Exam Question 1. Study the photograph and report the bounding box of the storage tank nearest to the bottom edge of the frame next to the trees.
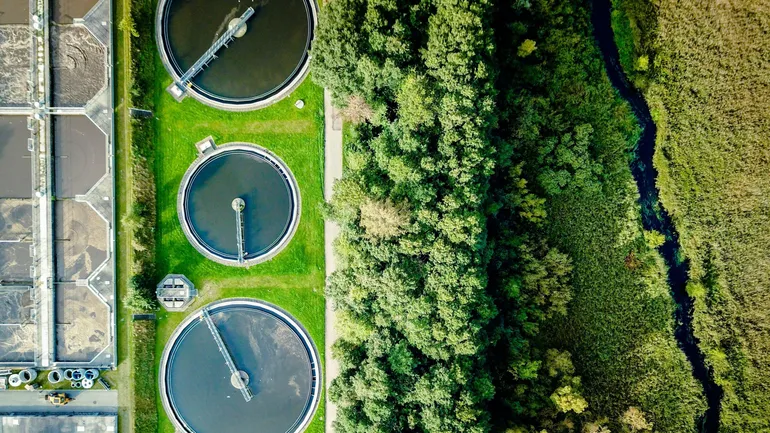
[159,298,322,433]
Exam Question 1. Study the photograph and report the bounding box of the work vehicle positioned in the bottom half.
[46,392,81,406]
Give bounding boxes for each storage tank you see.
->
[159,298,322,433]
[177,142,302,266]
[156,0,322,114]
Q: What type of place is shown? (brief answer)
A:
industrial area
